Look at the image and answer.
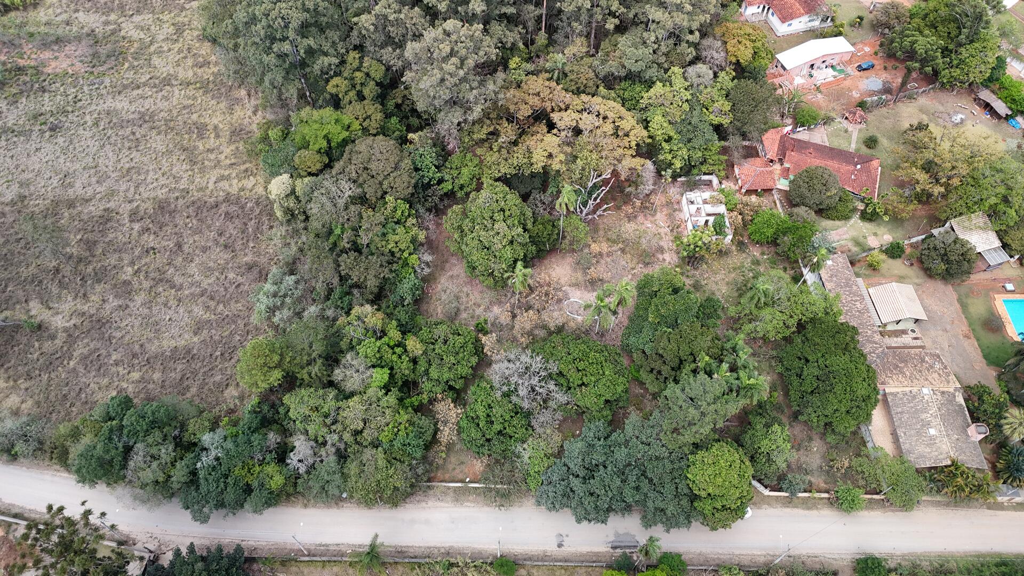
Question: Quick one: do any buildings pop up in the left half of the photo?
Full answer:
No, I see no building in the left half of the photo.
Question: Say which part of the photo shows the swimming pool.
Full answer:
Look in the right portion of the view to spot the swimming pool.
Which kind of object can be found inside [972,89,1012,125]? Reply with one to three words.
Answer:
shed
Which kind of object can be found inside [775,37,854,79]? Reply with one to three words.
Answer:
house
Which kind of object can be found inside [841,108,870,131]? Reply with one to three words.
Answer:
gazebo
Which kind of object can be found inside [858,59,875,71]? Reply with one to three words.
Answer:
vehicle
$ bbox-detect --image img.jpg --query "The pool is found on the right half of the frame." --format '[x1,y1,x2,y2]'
[994,294,1024,342]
